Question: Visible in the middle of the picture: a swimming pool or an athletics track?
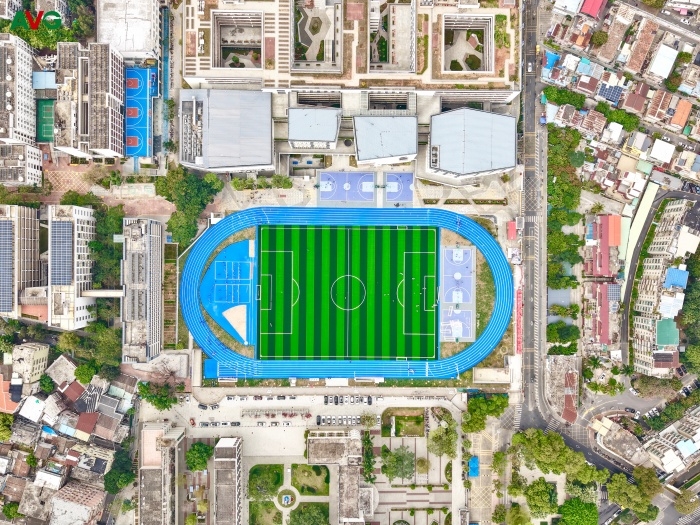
athletics track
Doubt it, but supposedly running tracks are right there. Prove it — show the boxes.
[181,206,513,380]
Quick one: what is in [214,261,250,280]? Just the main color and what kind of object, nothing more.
blue sports court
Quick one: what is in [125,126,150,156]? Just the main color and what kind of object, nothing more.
blue basketball court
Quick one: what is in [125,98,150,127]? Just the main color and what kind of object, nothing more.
blue basketball court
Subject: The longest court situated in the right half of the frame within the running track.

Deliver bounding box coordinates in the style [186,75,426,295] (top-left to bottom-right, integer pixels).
[441,245,476,342]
